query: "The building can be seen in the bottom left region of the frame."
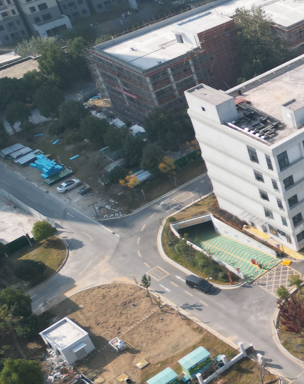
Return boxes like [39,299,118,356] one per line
[41,317,94,364]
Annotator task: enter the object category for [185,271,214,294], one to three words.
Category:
vehicle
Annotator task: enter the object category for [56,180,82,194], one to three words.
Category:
car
